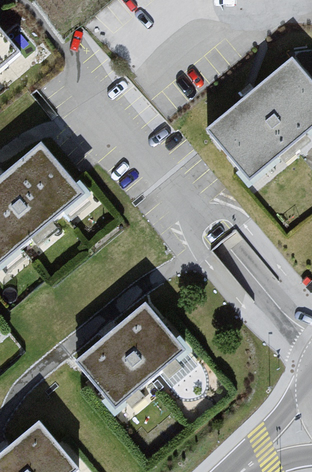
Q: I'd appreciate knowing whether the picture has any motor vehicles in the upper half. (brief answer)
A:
Yes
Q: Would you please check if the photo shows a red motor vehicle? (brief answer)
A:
Yes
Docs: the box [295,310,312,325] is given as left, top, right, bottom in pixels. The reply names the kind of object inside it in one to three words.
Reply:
car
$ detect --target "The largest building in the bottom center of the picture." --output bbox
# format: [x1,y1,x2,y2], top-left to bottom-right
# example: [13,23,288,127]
[76,302,199,416]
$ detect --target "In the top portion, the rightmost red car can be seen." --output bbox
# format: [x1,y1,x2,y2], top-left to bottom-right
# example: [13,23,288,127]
[188,68,204,88]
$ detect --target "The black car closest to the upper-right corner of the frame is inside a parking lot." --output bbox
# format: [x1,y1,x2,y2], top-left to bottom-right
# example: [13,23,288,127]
[176,73,195,97]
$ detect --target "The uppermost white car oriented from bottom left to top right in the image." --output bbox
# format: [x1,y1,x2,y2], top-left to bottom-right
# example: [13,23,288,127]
[108,80,128,98]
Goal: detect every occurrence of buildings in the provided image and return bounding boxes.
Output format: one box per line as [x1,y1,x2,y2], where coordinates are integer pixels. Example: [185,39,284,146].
[0,420,80,472]
[0,28,22,70]
[0,142,93,272]
[206,56,312,188]
[76,302,199,416]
